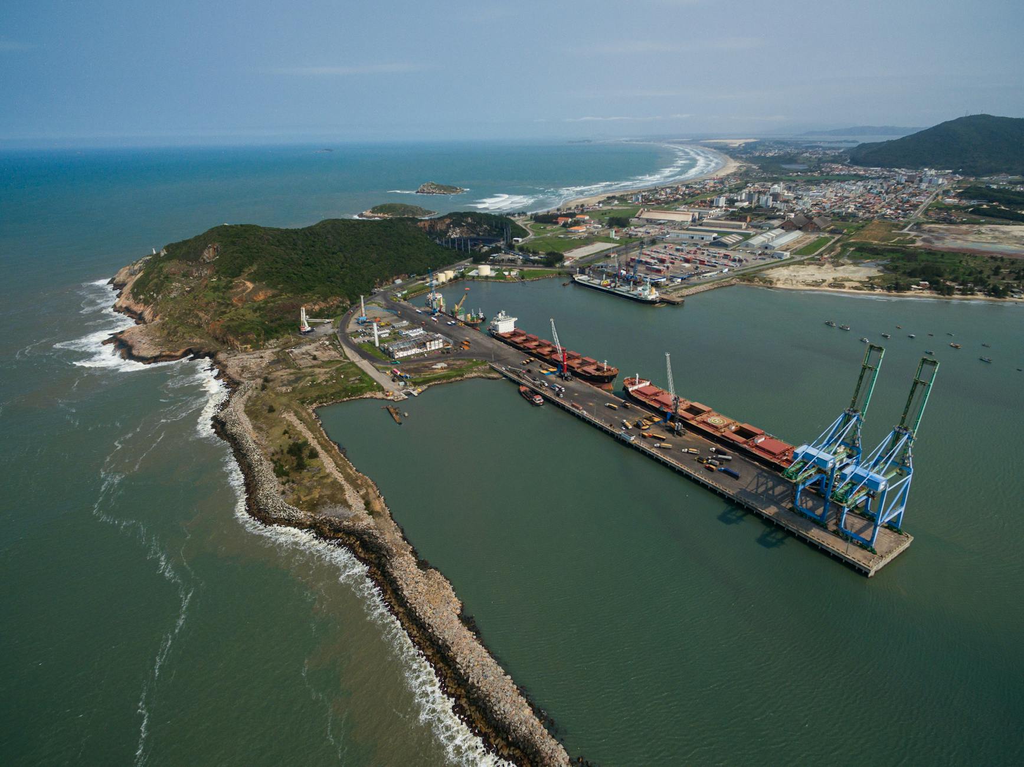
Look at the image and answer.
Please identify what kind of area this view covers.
port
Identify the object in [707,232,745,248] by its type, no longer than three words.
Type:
building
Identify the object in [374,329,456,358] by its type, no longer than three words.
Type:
building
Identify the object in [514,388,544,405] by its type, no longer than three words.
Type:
boat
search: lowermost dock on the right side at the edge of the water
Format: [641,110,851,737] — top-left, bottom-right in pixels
[490,356,916,576]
